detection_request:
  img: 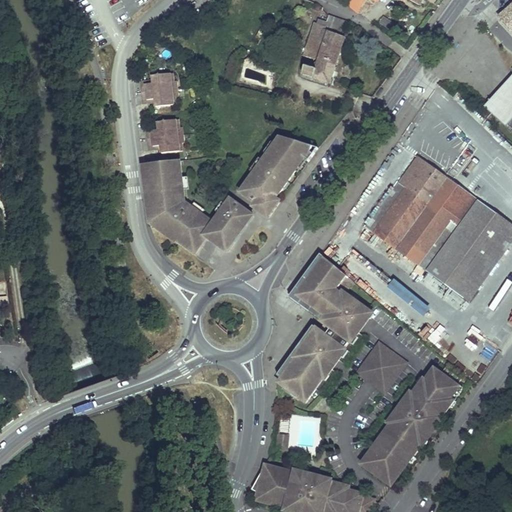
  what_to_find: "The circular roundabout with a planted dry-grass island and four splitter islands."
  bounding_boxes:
[171,264,272,380]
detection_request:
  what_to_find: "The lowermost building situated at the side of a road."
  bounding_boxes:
[251,462,376,512]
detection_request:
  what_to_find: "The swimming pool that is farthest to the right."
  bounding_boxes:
[288,415,321,450]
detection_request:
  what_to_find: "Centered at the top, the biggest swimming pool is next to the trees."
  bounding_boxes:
[238,60,274,88]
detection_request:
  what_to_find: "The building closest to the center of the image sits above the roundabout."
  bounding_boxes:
[202,192,254,250]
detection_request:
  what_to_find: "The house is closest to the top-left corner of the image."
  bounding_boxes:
[142,72,177,107]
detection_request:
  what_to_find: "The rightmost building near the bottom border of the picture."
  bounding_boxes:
[360,365,464,486]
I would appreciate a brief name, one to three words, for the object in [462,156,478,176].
vehicle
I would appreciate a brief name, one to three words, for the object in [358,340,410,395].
building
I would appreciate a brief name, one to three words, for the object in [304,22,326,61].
house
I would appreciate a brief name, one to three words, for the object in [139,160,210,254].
building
